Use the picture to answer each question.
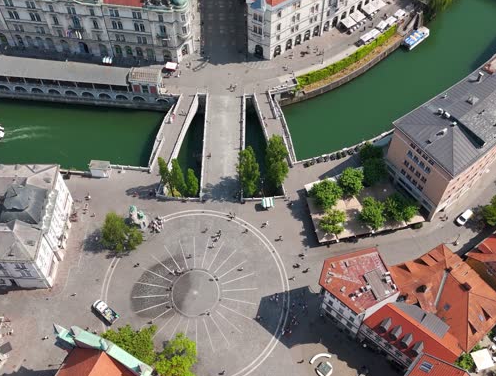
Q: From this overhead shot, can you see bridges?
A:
Yes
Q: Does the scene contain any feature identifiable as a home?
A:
Yes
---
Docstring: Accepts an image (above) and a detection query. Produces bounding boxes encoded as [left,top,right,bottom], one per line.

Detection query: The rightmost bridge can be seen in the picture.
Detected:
[253,91,297,193]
